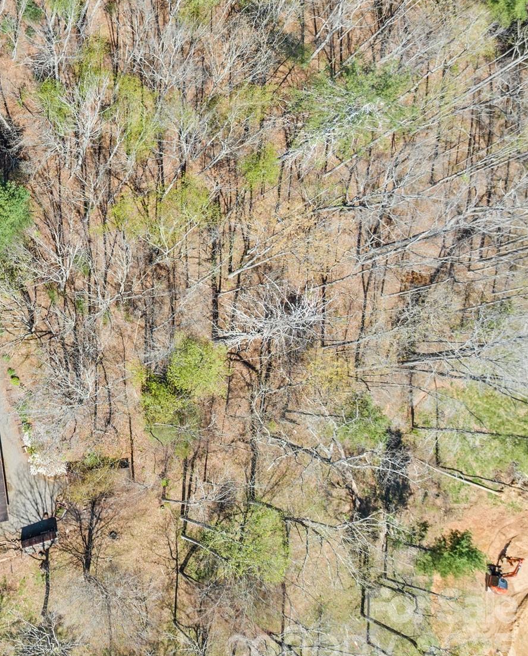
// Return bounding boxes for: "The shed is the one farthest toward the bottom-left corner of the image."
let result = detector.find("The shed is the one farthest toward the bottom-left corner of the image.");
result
[19,526,59,556]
